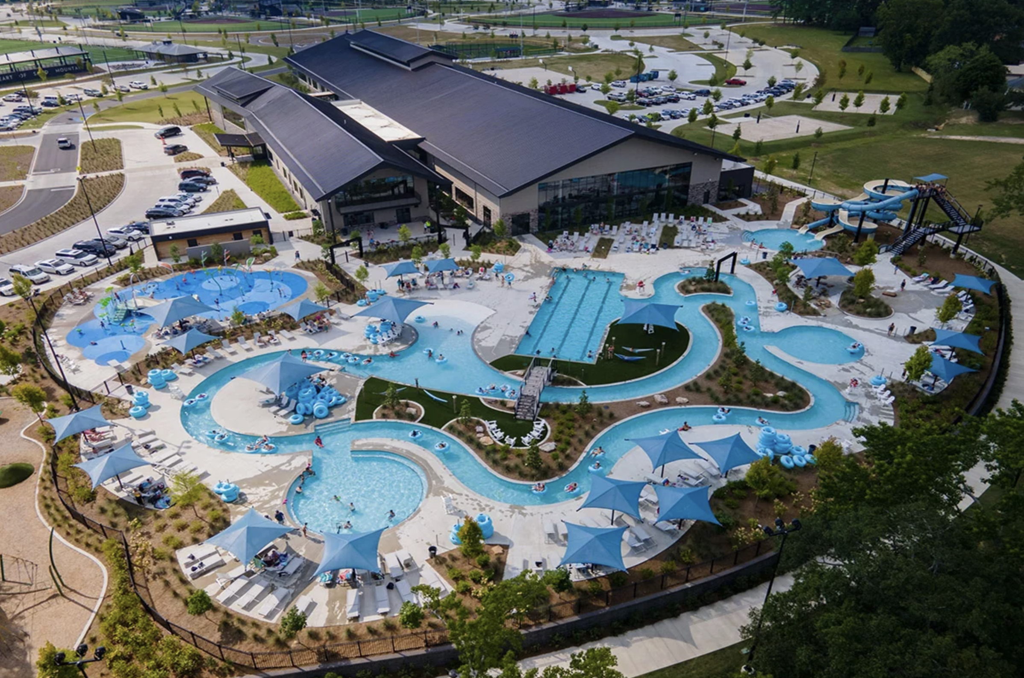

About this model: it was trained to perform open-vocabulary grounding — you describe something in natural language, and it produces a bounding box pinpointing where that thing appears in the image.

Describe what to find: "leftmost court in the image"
[428,43,563,58]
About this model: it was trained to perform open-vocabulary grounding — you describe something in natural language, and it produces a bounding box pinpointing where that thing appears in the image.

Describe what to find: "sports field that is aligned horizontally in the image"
[0,0,771,75]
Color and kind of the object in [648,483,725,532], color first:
blue umbrella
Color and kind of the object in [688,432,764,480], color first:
blue umbrella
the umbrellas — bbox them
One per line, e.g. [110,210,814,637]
[948,273,999,305]
[275,298,333,330]
[648,483,725,532]
[574,474,648,523]
[622,428,710,475]
[423,258,462,286]
[348,295,437,331]
[154,327,225,364]
[556,519,631,576]
[378,261,425,291]
[688,432,764,480]
[927,327,986,357]
[134,294,219,331]
[67,441,159,494]
[931,344,982,387]
[229,350,337,400]
[201,506,302,575]
[613,300,683,336]
[786,257,857,289]
[307,526,390,583]
[41,403,120,450]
